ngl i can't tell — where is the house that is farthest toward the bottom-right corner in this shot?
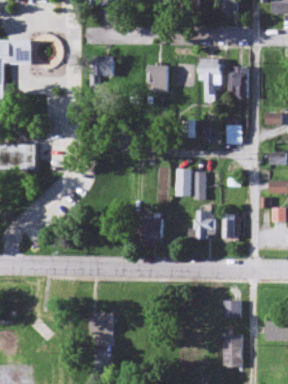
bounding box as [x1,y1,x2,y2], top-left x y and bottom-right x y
[222,335,244,367]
